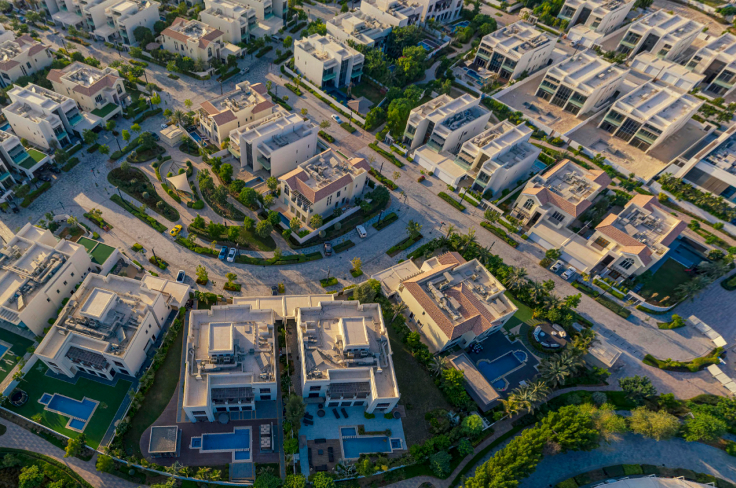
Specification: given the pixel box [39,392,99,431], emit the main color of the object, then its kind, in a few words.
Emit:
blue swimming pool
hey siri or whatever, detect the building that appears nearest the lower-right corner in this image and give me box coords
[584,336,623,372]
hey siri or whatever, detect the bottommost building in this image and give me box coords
[151,425,179,455]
